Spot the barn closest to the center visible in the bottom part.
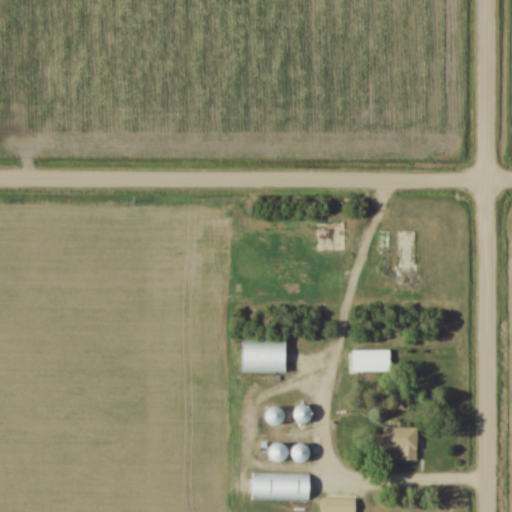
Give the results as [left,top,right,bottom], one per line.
[242,342,286,373]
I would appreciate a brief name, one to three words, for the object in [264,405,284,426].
silo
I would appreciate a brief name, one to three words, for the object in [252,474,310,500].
barn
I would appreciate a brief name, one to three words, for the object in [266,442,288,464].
silo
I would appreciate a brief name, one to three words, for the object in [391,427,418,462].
house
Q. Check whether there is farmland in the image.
Yes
